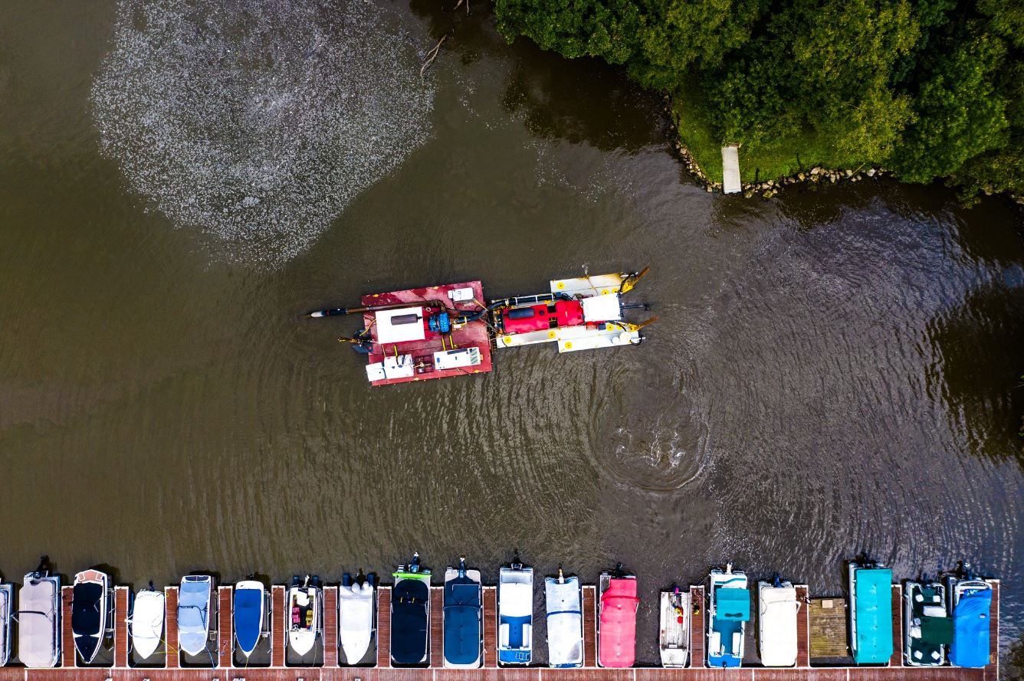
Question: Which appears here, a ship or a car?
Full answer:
There is a ship in the scene.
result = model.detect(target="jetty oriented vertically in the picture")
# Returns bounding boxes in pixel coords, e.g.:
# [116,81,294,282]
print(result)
[719,142,742,197]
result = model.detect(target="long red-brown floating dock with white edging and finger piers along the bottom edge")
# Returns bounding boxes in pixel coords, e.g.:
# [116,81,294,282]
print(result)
[0,576,999,681]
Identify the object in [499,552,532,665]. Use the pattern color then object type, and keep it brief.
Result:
white boat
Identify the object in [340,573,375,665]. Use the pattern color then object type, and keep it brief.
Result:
white boat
